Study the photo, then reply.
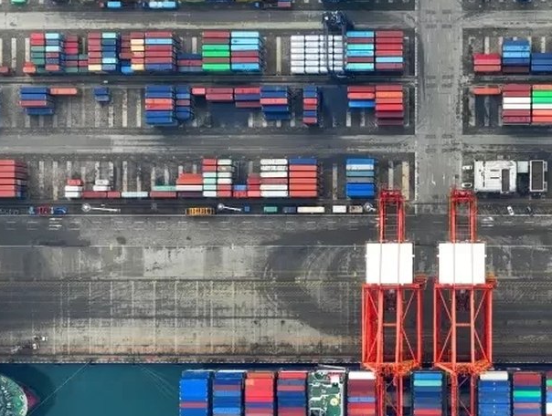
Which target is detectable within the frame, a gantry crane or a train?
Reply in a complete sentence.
There is a gantry crane in the scene.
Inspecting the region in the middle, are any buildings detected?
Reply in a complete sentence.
No, there's no building to be seen in the middle.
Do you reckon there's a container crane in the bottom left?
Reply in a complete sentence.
No, looking in the bottom left, there is no container crane.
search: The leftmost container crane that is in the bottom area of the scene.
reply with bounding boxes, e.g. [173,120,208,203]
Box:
[361,190,429,416]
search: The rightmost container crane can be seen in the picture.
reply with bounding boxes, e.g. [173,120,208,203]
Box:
[429,190,499,416]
